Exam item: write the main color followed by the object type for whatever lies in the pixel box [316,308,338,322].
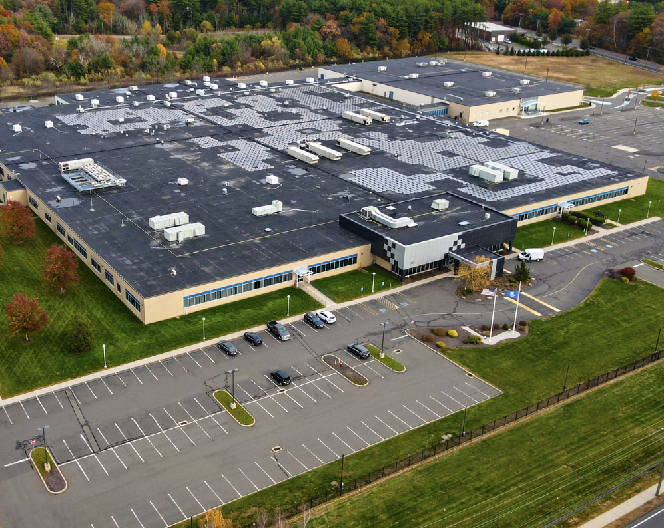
white car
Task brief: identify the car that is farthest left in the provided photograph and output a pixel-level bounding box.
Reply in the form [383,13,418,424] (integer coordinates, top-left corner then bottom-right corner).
[217,339,238,354]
